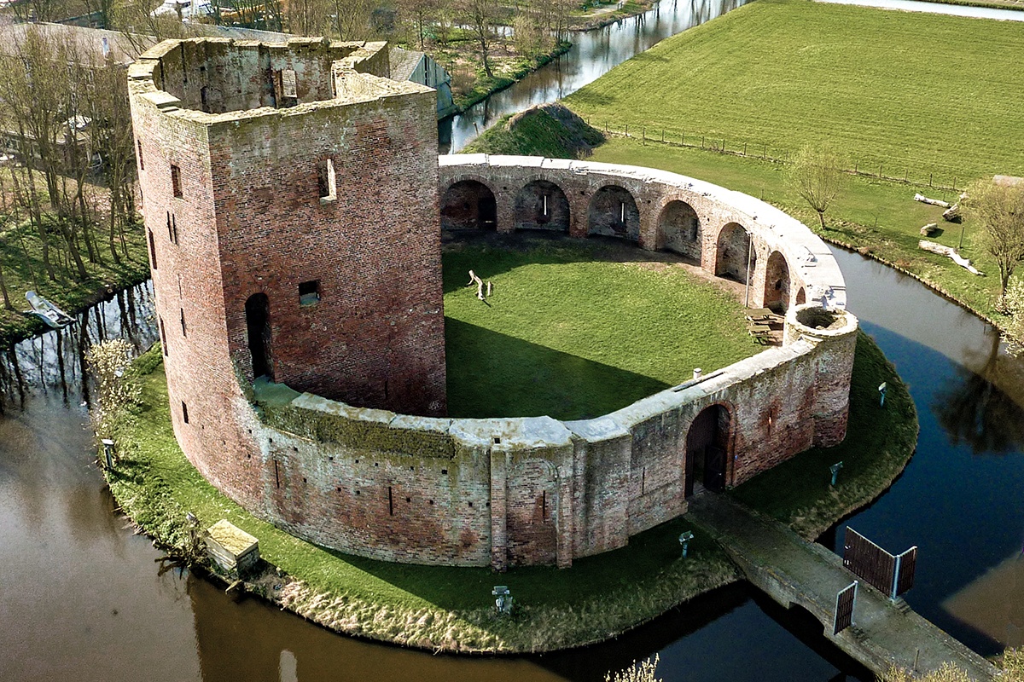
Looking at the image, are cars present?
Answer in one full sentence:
No, the photo shows no car.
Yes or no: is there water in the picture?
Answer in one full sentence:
Yes, water can be seen from above here.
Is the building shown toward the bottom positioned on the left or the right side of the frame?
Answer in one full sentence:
The building shown toward the bottom is on the left side of the image.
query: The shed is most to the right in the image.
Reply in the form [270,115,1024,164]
[394,43,452,116]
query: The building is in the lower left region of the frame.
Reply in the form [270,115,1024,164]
[199,508,260,567]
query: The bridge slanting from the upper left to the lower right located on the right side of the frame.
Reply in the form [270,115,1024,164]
[684,483,1022,682]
